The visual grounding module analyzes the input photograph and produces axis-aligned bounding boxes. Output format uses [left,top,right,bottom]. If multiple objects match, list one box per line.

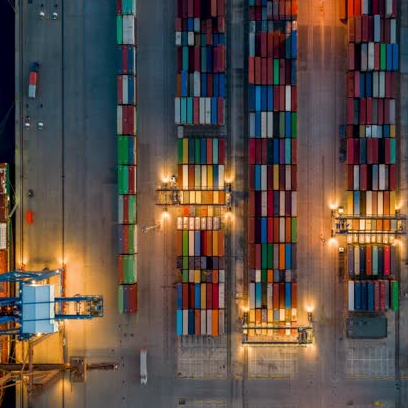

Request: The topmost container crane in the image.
[156,182,232,211]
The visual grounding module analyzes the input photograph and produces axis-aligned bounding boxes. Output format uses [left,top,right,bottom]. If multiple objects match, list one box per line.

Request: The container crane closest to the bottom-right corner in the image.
[241,313,313,351]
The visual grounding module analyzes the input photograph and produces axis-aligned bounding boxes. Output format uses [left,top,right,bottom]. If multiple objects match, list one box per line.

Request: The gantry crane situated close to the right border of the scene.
[331,210,407,238]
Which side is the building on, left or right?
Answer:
right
